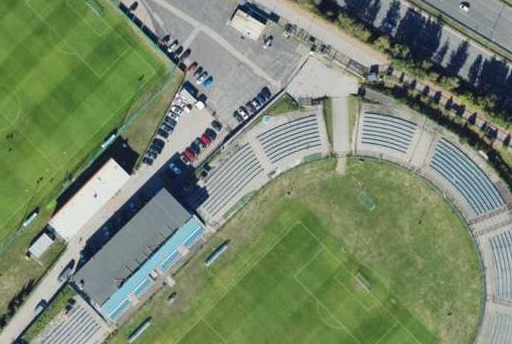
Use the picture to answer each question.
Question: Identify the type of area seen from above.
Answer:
sports ground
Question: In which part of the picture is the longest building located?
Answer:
left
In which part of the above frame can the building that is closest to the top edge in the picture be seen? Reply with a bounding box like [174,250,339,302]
[229,9,266,41]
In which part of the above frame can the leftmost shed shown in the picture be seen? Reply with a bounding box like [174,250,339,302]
[28,234,54,258]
